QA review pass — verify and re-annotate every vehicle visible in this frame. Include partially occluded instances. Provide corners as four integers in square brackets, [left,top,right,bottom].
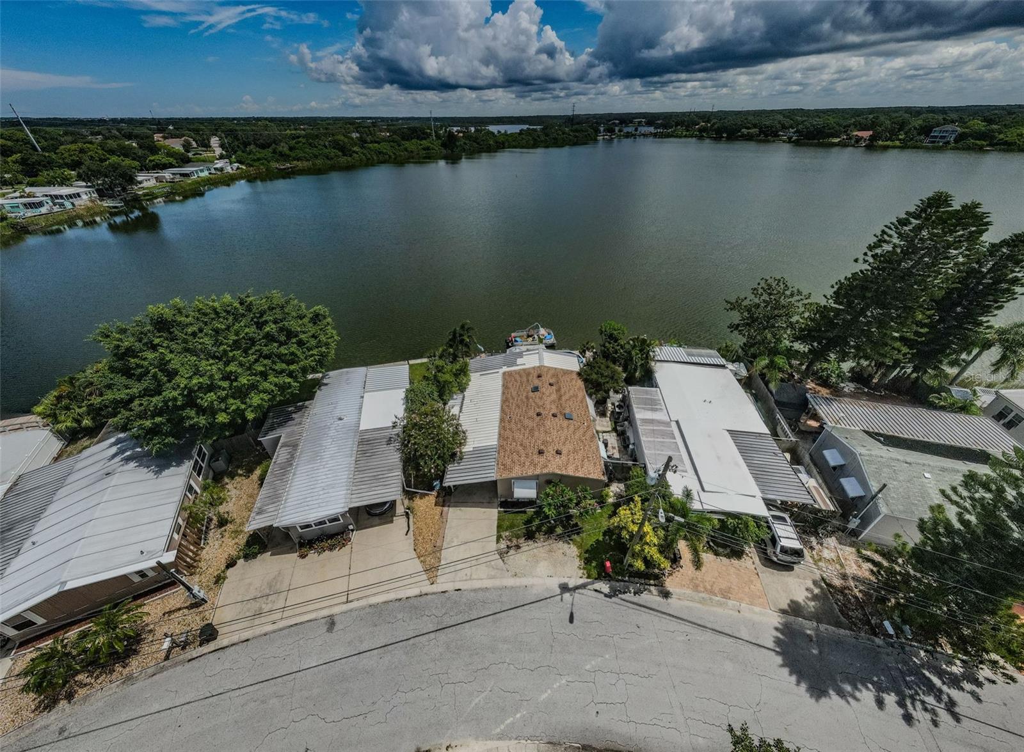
[372,502,402,521]
[762,507,813,577]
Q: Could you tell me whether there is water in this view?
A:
Yes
